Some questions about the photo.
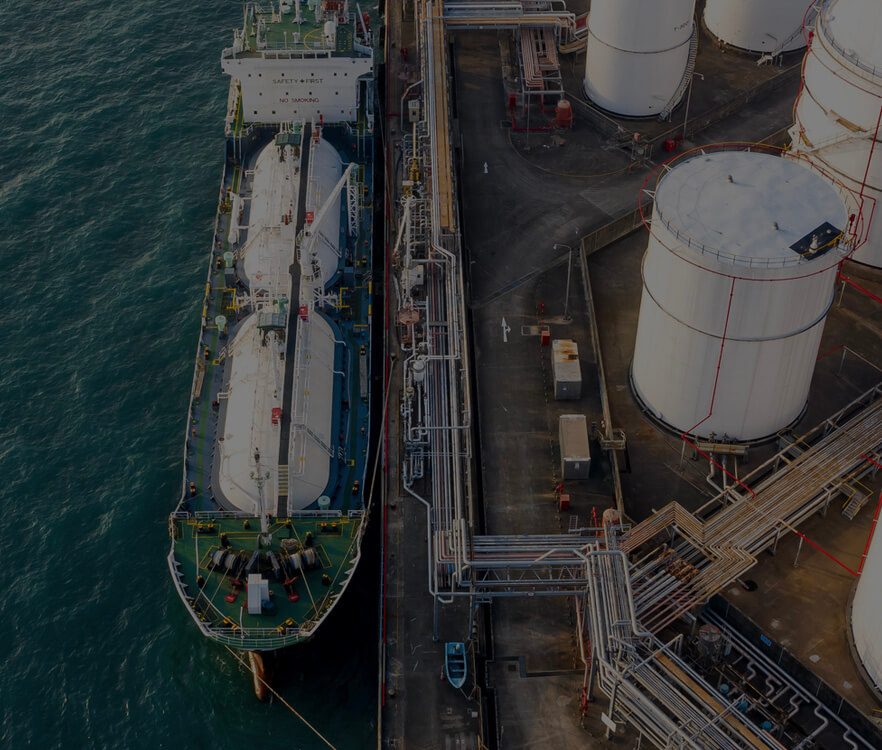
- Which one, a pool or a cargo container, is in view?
cargo container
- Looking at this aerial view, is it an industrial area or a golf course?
industrial area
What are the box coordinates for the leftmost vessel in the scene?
[167,0,376,706]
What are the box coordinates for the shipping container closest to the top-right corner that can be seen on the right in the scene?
[550,339,580,399]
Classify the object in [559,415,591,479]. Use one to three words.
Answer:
shipping container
